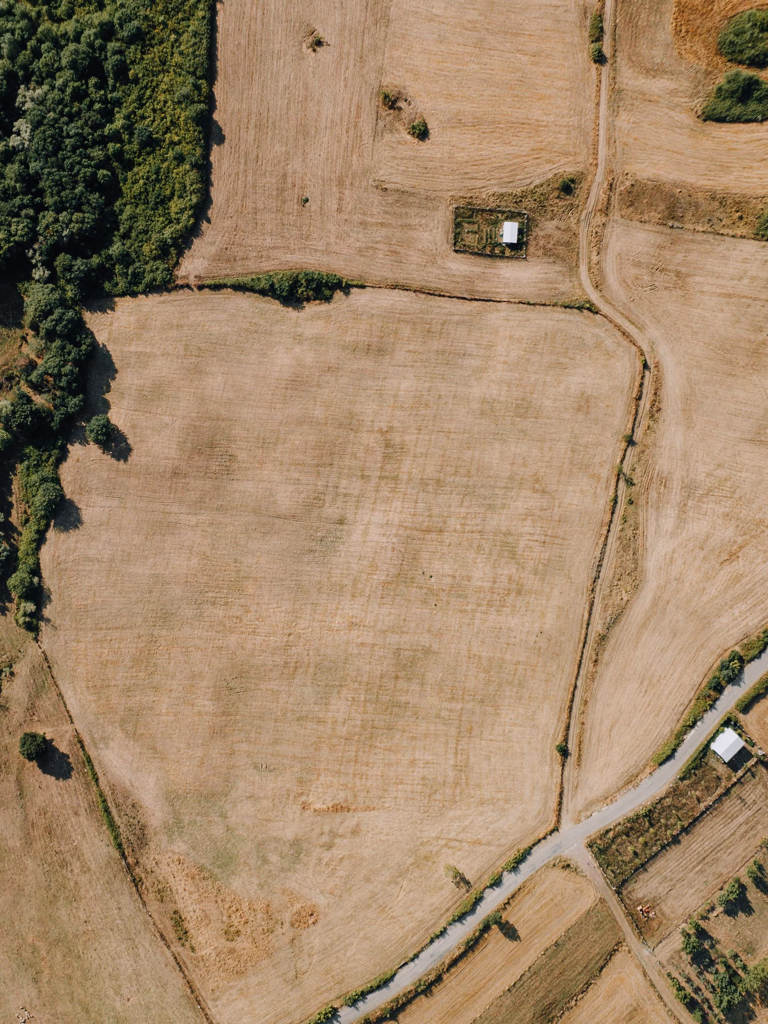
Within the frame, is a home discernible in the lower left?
No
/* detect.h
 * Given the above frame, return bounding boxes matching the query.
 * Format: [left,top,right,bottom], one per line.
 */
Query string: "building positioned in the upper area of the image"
[503,221,518,244]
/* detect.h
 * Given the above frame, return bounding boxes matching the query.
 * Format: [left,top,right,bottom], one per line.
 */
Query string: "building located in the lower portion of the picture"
[709,726,745,761]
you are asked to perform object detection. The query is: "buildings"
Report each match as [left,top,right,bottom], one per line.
[503,221,518,244]
[709,726,745,761]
